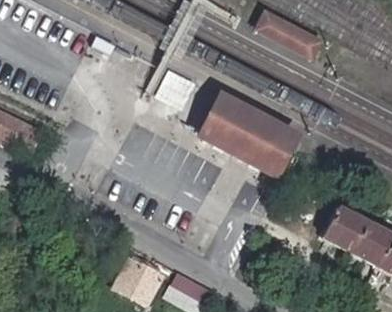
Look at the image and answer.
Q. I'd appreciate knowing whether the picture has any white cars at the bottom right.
No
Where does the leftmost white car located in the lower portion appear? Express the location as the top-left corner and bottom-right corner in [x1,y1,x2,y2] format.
[108,180,122,202]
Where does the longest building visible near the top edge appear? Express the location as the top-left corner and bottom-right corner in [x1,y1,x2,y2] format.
[254,10,324,64]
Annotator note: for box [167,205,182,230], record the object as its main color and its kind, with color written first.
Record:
white car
